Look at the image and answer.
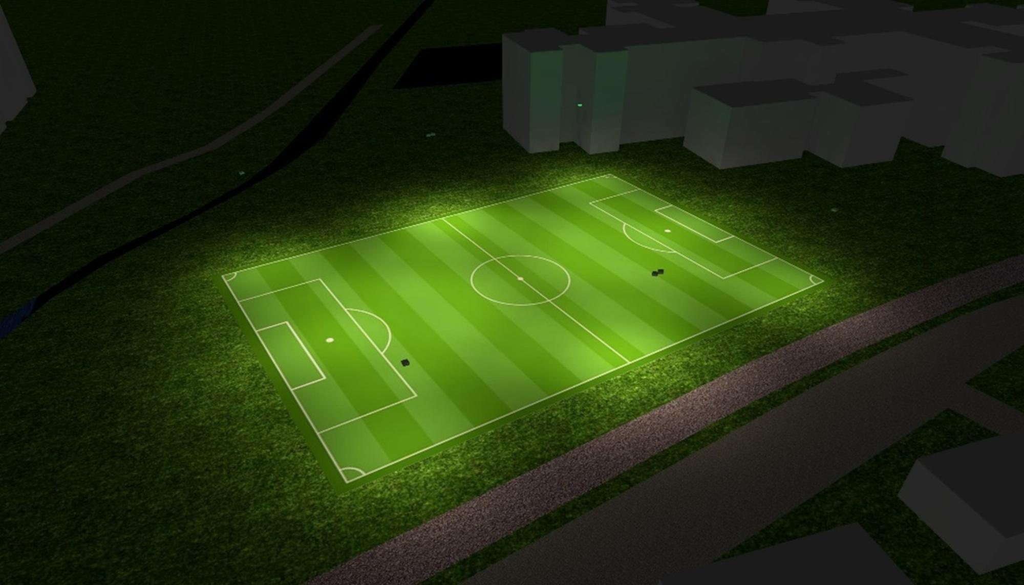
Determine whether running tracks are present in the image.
No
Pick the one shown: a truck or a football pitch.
football pitch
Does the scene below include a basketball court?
No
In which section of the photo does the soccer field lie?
center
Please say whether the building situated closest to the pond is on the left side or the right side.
right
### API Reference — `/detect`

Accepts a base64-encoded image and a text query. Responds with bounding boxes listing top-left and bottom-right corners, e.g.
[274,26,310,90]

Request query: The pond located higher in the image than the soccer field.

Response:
[393,43,503,89]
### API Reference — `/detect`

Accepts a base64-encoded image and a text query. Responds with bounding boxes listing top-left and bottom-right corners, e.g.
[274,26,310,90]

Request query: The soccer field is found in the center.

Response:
[212,172,834,495]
